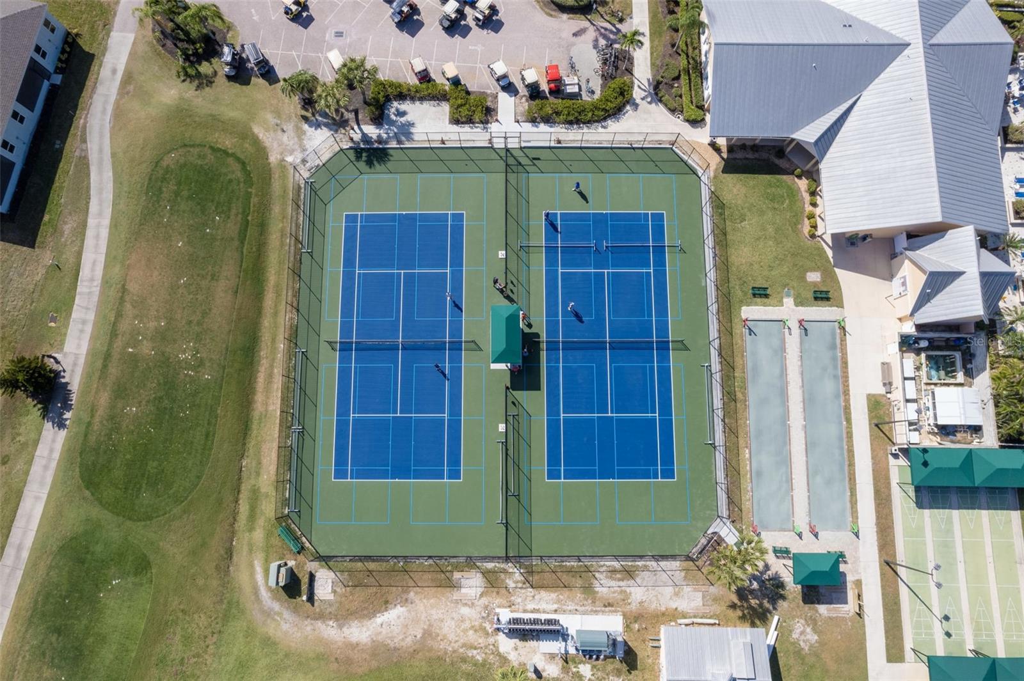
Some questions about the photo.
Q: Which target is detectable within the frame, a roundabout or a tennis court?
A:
tennis court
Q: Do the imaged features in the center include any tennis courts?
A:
Yes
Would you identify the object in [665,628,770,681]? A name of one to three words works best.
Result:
shed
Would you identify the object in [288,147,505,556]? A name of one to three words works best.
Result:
tennis court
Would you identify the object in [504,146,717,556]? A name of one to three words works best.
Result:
tennis court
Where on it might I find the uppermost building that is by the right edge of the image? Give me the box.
[692,0,1015,246]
